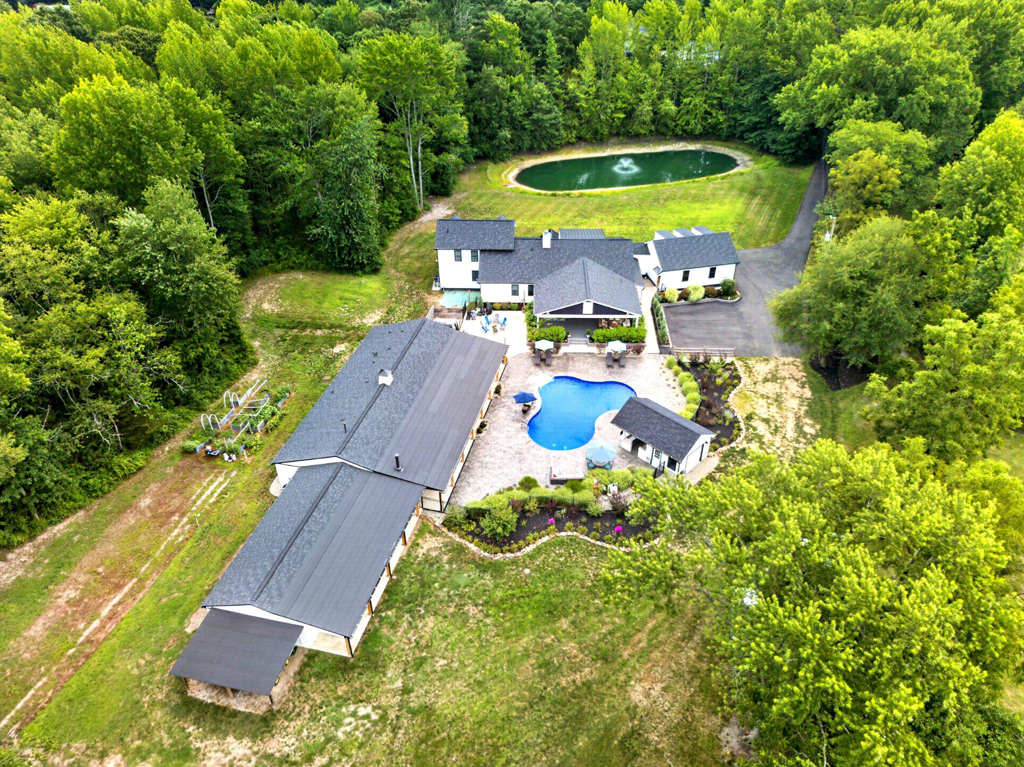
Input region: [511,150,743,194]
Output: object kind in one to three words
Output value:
pond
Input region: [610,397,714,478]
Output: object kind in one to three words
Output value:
building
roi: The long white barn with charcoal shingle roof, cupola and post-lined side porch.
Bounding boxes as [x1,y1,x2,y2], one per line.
[167,317,510,712]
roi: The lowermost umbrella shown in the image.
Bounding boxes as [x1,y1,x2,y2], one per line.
[586,439,620,463]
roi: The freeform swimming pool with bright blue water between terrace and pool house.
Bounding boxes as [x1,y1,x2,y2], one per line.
[520,371,641,453]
